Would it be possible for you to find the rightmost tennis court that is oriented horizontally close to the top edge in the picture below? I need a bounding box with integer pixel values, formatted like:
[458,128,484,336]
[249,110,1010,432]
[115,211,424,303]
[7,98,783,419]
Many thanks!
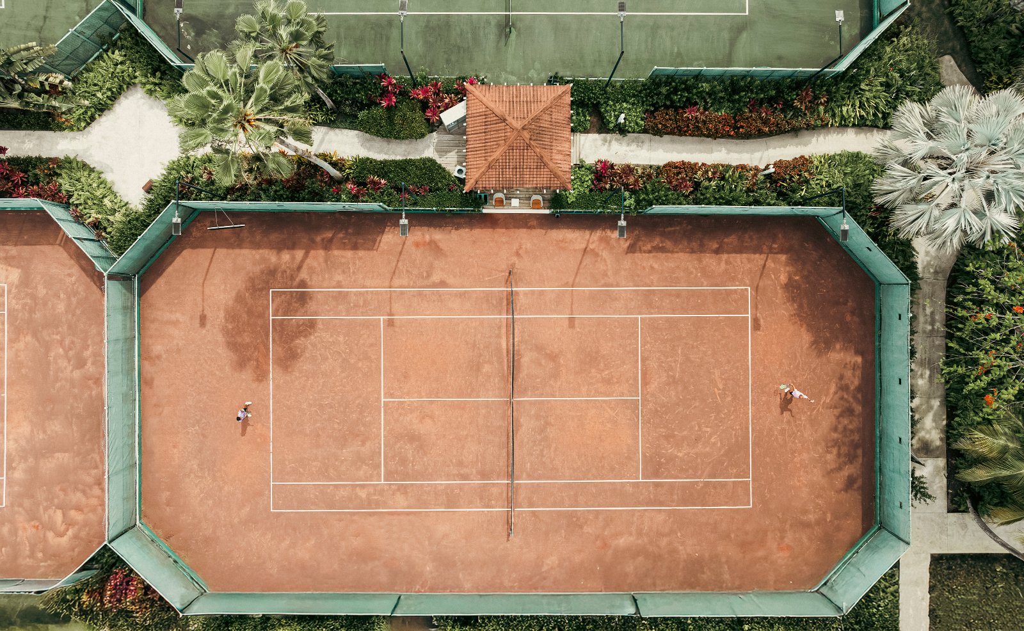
[145,0,873,85]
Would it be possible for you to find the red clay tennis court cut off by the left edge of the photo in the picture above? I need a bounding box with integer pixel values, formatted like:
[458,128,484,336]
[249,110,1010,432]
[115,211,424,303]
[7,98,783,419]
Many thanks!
[0,214,121,579]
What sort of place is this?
sports ground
